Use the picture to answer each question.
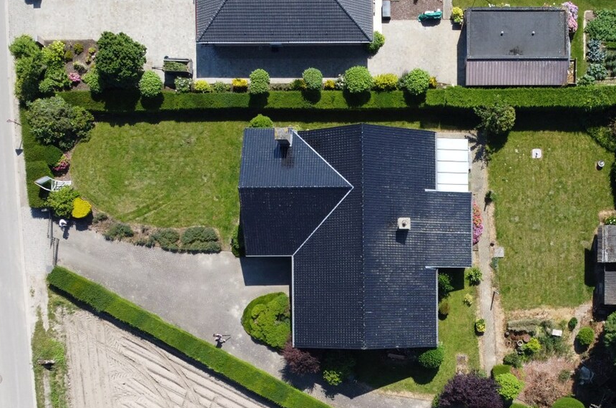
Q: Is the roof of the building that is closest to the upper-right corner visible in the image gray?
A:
Yes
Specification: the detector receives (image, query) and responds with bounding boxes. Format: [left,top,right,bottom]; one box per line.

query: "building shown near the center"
[238,123,473,350]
